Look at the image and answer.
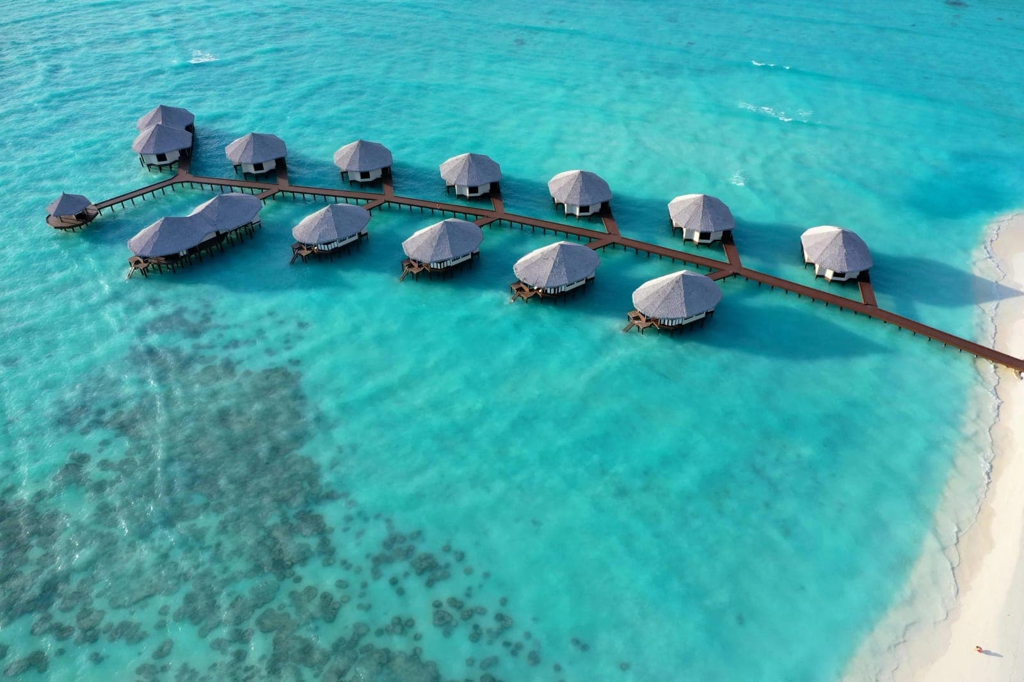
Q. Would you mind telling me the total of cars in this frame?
0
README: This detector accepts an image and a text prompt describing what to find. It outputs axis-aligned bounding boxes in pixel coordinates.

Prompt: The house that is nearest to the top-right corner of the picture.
[797,226,877,290]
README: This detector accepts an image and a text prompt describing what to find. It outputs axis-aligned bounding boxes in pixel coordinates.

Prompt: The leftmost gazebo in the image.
[46,189,102,235]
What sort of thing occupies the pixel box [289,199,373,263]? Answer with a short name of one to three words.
house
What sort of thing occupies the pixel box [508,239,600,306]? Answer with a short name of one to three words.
house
